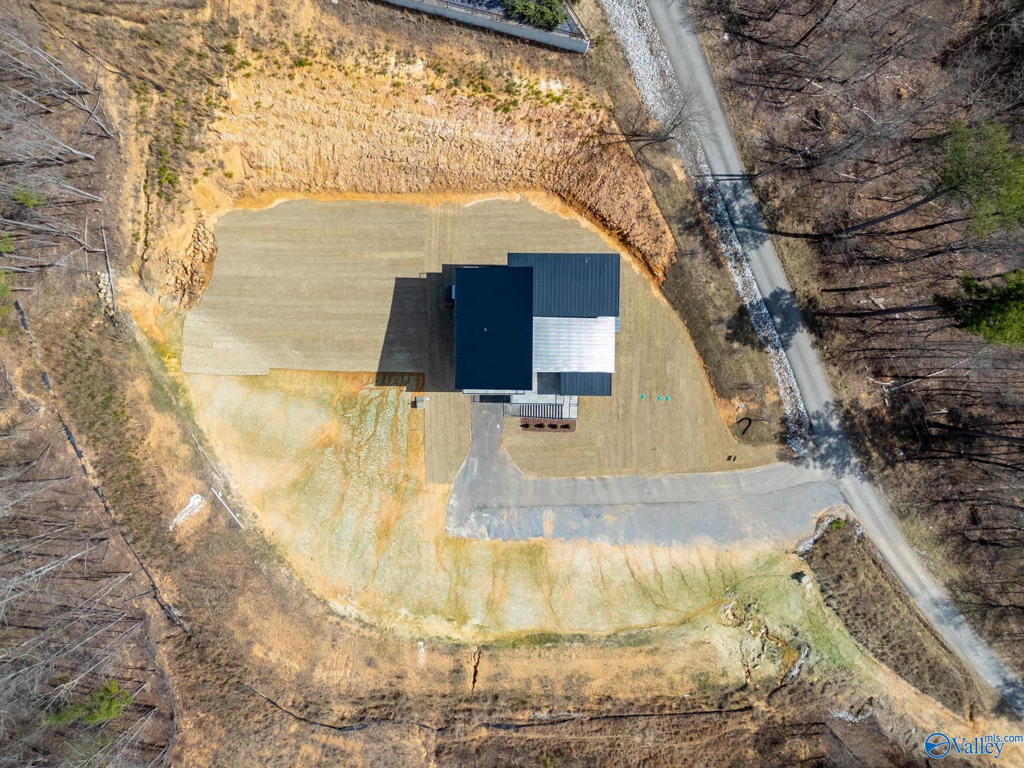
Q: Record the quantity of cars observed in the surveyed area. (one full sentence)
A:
Not a single car can be seen.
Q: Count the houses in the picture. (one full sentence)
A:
The picture shows just 1 house.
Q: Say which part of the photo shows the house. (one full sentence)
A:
The house is located in the center region of the scene.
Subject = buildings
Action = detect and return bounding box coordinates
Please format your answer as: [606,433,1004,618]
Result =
[453,252,622,419]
